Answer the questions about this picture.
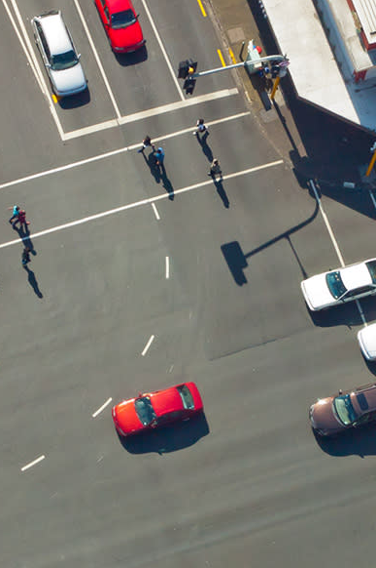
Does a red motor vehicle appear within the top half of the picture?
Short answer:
Yes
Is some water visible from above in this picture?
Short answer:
No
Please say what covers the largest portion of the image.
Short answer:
paved ground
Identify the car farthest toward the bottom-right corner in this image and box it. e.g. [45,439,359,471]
[305,376,376,432]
